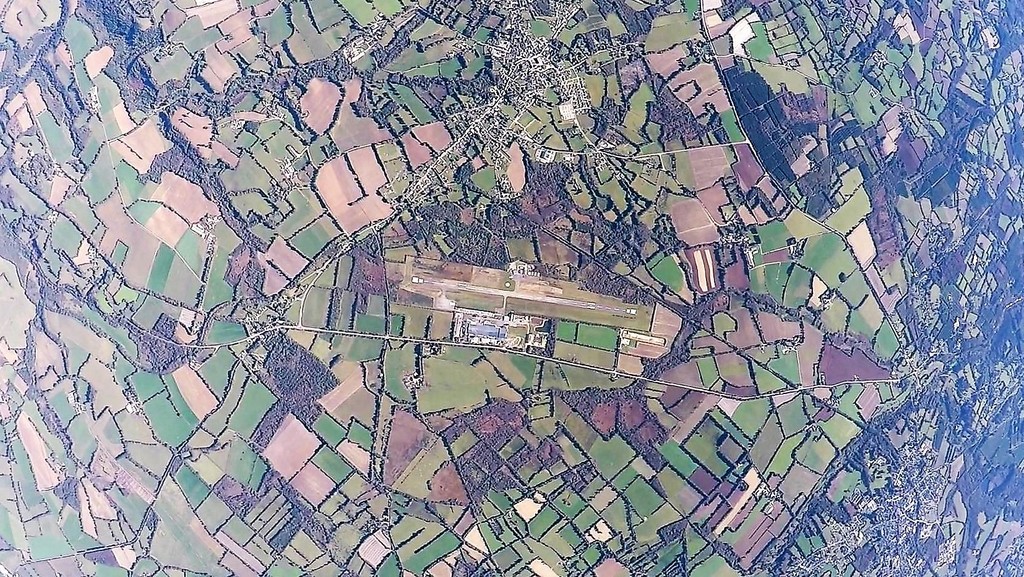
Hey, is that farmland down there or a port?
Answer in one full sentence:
This looks like farmland.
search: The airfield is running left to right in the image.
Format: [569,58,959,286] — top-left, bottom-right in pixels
[402,256,656,335]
